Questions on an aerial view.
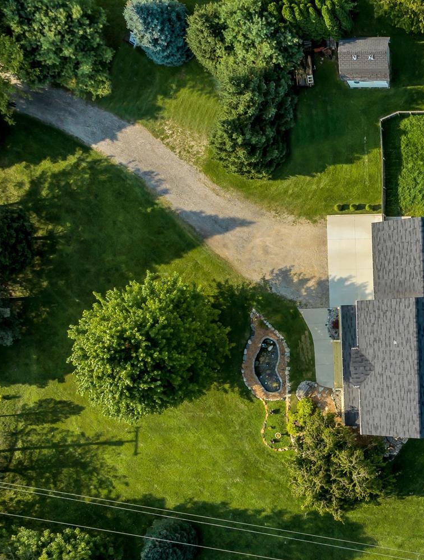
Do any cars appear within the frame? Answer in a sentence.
No, no car can be seen from above.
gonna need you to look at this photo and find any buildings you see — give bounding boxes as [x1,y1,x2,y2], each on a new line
[330,215,424,439]
[336,40,391,89]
